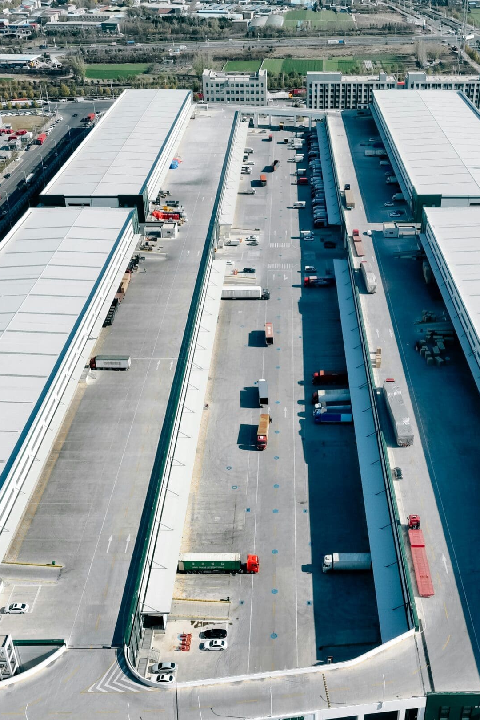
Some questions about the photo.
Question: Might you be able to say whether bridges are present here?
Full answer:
Yes, there's a bridge down there.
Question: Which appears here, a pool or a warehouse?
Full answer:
There is a warehouse in the scene.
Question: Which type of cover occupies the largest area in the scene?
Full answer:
The bulk of the photo consists of paved ground.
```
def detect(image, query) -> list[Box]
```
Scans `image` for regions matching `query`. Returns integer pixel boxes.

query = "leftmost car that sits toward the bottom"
[6,601,34,614]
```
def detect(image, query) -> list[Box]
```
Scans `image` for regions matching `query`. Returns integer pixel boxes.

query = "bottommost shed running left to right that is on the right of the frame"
[382,220,417,237]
